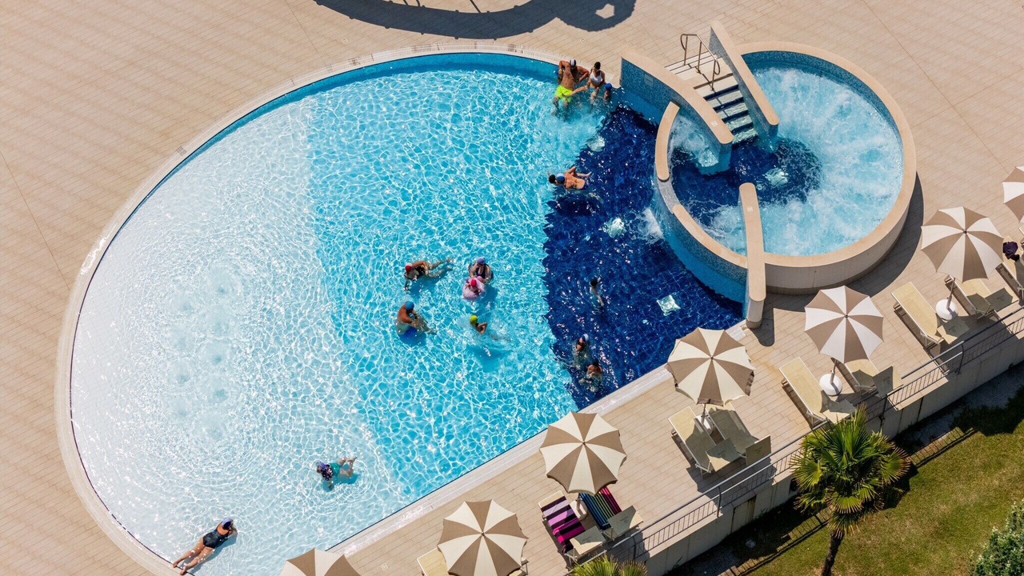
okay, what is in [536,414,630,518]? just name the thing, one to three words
umbrella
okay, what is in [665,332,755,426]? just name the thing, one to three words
umbrella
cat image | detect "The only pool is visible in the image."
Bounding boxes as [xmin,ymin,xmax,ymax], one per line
[53,40,757,576]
